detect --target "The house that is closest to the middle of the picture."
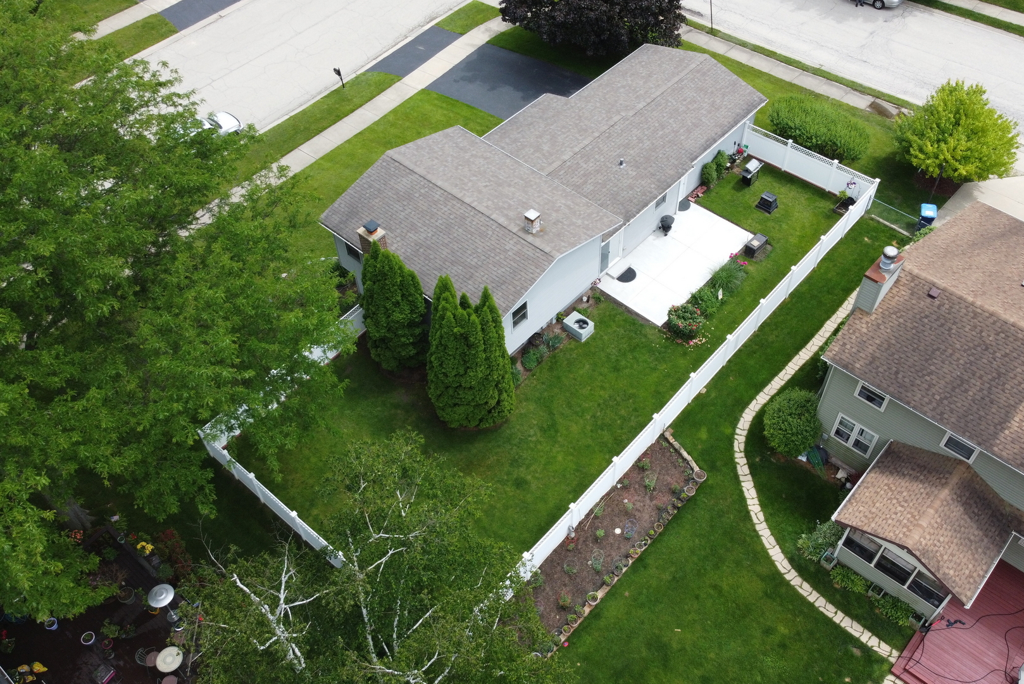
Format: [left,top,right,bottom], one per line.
[316,45,769,361]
